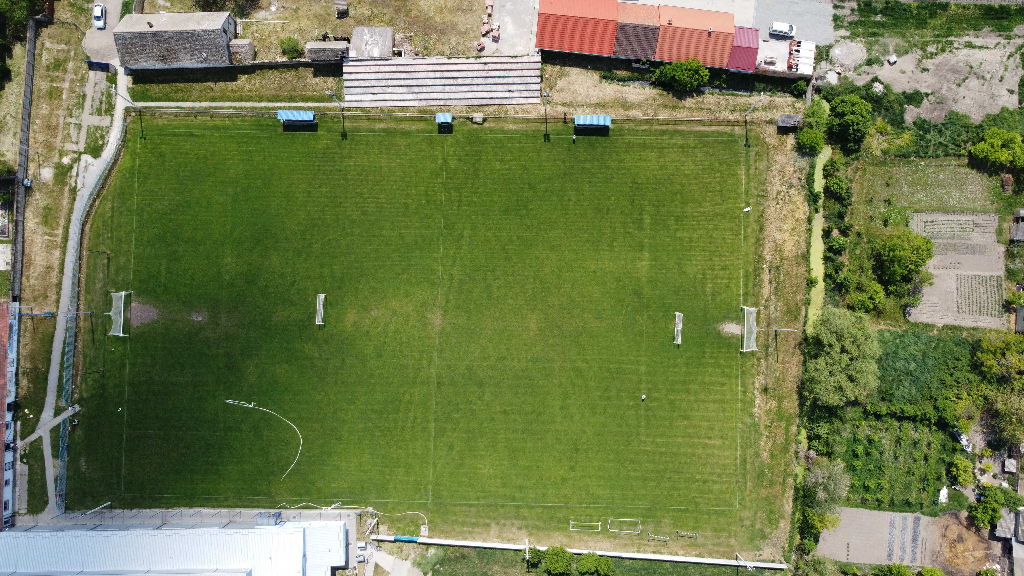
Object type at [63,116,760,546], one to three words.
soccer field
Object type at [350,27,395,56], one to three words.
shed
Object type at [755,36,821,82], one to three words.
building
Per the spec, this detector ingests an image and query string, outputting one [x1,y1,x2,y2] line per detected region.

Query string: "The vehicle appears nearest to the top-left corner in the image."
[91,2,106,28]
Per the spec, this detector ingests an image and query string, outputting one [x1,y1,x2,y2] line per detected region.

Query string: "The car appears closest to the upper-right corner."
[770,21,797,36]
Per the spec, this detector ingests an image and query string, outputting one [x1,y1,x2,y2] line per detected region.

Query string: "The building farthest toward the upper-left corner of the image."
[113,11,234,69]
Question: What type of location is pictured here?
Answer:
sports ground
